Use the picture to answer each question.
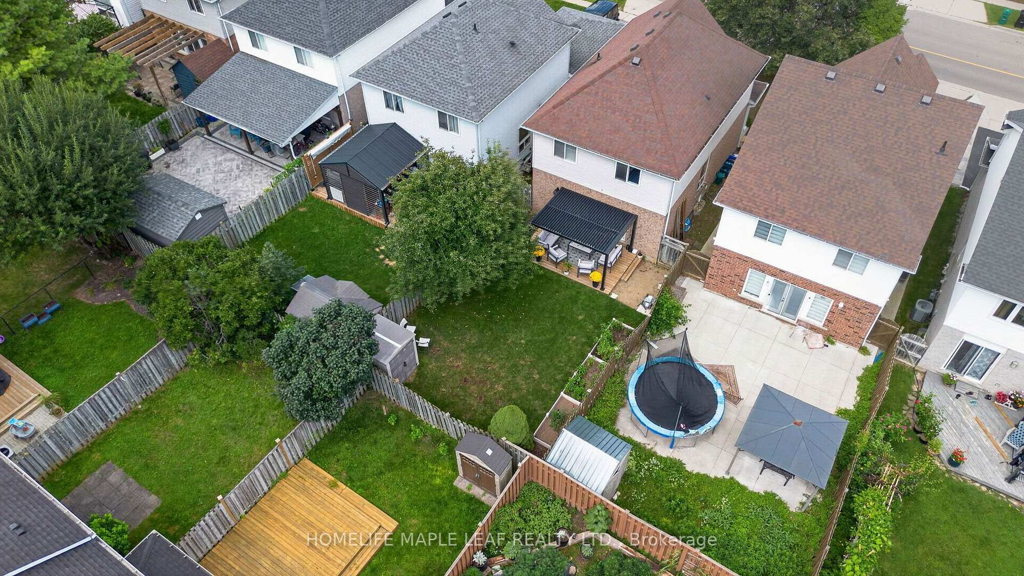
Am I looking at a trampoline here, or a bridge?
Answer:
trampoline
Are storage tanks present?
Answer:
No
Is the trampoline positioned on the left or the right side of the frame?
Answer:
right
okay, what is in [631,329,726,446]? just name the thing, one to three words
trampoline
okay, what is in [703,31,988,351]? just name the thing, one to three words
house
